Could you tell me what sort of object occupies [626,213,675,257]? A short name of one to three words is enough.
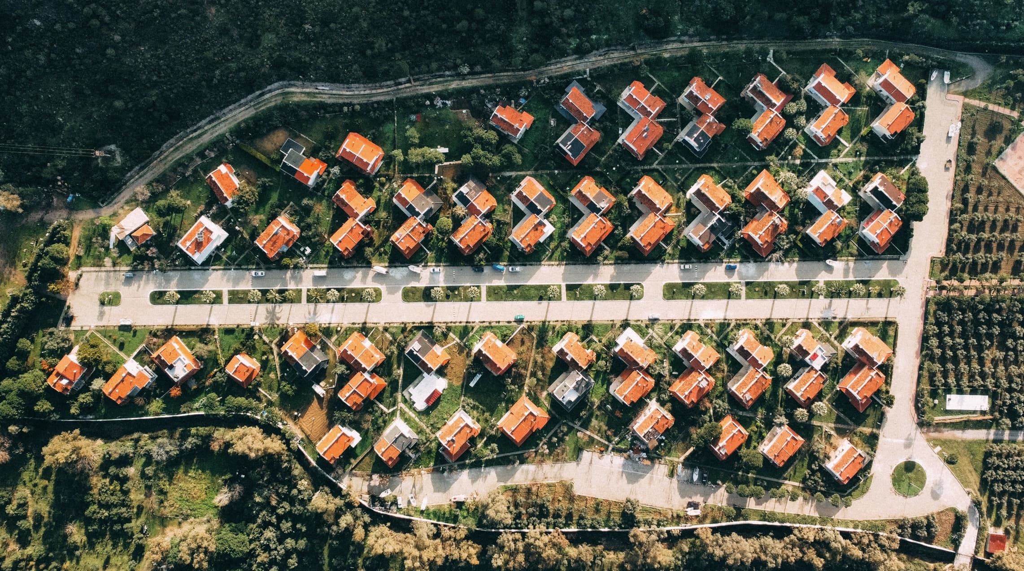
house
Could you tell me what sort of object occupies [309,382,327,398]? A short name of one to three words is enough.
camper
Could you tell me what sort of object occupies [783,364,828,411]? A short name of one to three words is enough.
house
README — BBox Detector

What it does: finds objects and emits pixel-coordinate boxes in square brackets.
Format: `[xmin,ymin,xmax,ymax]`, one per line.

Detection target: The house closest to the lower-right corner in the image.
[983,527,1007,553]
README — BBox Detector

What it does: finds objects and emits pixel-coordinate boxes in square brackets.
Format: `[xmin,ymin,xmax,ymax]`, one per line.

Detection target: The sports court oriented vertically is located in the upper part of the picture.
[995,129,1024,191]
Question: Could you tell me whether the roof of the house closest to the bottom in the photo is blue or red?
red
